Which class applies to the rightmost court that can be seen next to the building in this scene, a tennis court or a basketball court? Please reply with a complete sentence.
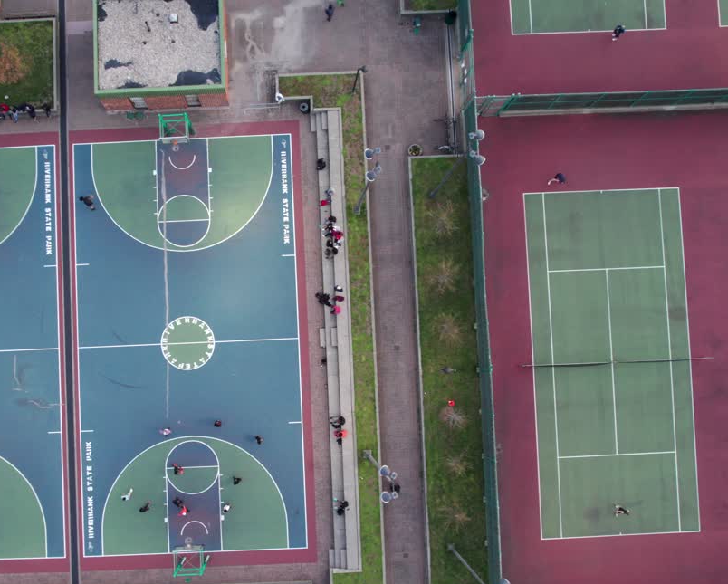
The rightmost court that can be seen next to the building appears to be a basketball court.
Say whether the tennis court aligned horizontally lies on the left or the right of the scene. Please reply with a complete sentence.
The tennis court aligned horizontally appears in the right half of the scene.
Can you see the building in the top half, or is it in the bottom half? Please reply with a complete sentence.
It is in the top half that the building appears.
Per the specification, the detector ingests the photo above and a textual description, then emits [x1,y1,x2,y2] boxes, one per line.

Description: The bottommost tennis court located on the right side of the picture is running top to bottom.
[523,188,700,540]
